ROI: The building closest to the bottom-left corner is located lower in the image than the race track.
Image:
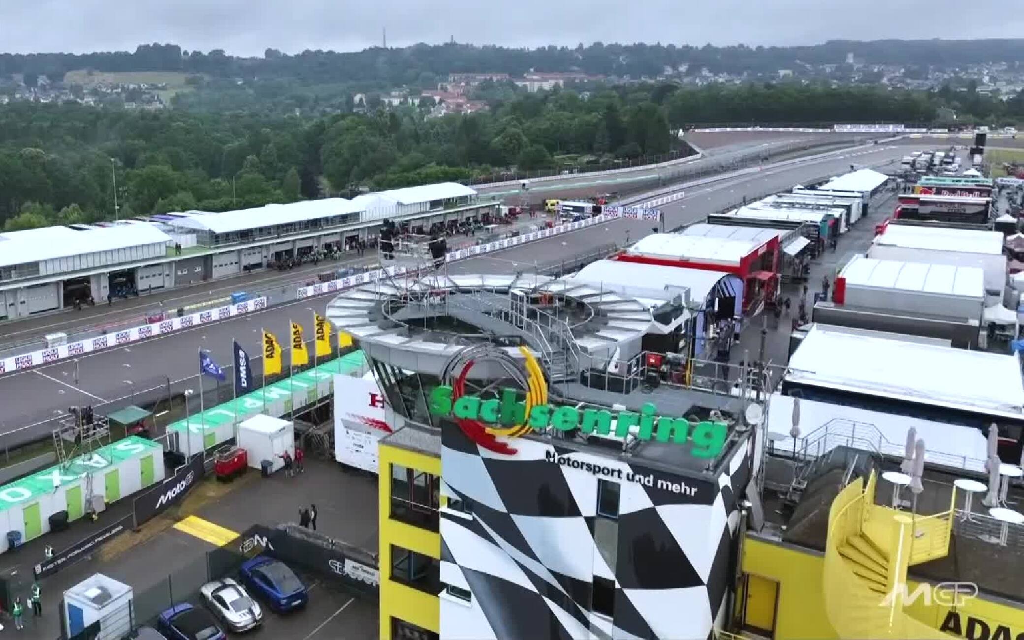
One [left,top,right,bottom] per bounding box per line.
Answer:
[60,572,136,640]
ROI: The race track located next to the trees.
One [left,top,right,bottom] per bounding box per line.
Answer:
[0,136,949,446]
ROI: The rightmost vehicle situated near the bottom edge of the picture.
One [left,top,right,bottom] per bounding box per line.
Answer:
[244,559,309,609]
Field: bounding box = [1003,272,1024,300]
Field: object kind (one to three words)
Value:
tent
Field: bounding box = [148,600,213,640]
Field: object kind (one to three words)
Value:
car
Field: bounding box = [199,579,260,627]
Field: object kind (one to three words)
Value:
car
